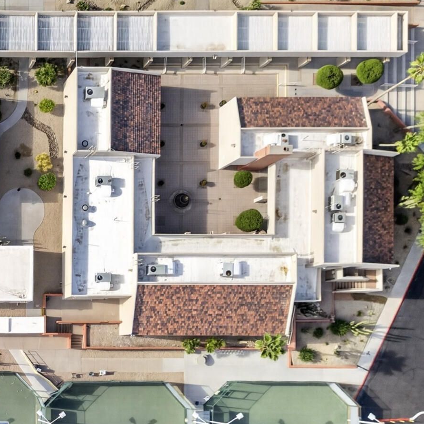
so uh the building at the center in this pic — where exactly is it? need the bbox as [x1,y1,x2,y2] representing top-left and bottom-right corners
[60,67,402,337]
